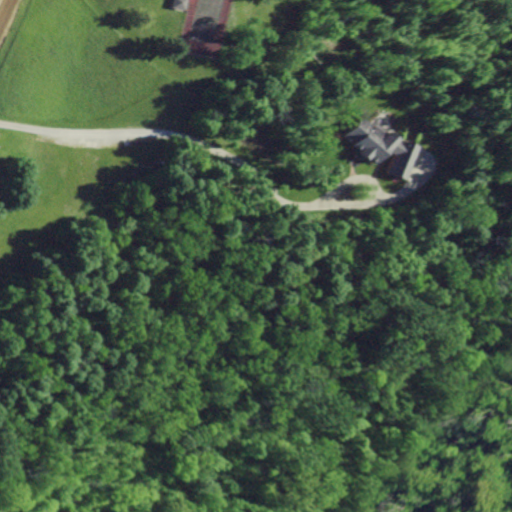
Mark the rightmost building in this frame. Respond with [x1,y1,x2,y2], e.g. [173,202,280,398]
[395,141,423,182]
